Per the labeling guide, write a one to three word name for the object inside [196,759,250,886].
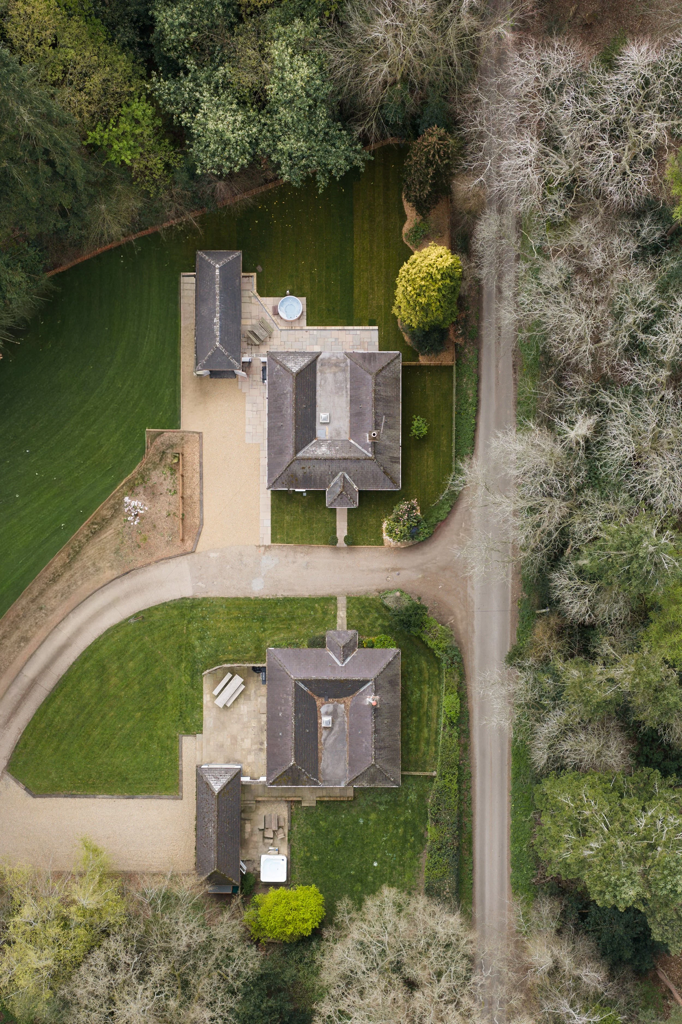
building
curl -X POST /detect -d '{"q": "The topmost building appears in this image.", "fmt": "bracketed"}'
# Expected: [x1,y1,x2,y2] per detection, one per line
[195,250,251,381]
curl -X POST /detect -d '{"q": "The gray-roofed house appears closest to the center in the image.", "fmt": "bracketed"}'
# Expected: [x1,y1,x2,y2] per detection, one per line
[266,350,402,509]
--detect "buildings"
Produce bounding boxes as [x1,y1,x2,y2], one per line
[265,629,402,788]
[266,350,402,509]
[195,250,251,381]
[196,759,250,886]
